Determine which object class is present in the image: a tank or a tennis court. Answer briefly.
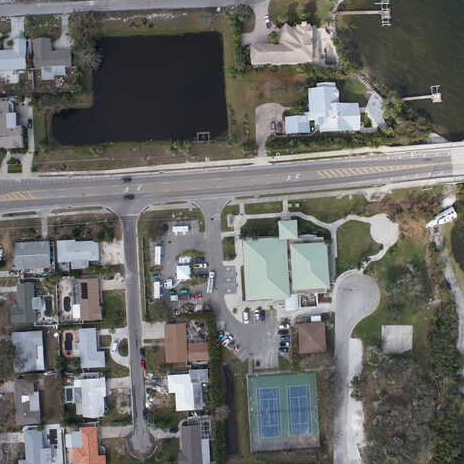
tennis court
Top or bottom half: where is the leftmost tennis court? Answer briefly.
bottom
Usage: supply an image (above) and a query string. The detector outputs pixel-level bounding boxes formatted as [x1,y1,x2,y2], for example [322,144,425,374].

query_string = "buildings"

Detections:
[0,101,24,148]
[12,331,45,372]
[75,377,107,417]
[80,328,106,368]
[297,321,326,354]
[57,241,99,270]
[15,241,51,269]
[33,38,73,80]
[0,38,27,83]
[168,369,208,410]
[19,428,52,464]
[166,323,208,363]
[181,425,210,464]
[250,23,313,65]
[291,234,329,293]
[65,426,107,464]
[243,238,290,300]
[309,82,361,132]
[16,379,40,425]
[10,283,43,323]
[73,279,102,320]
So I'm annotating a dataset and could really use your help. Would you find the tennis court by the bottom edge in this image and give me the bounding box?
[248,372,320,453]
